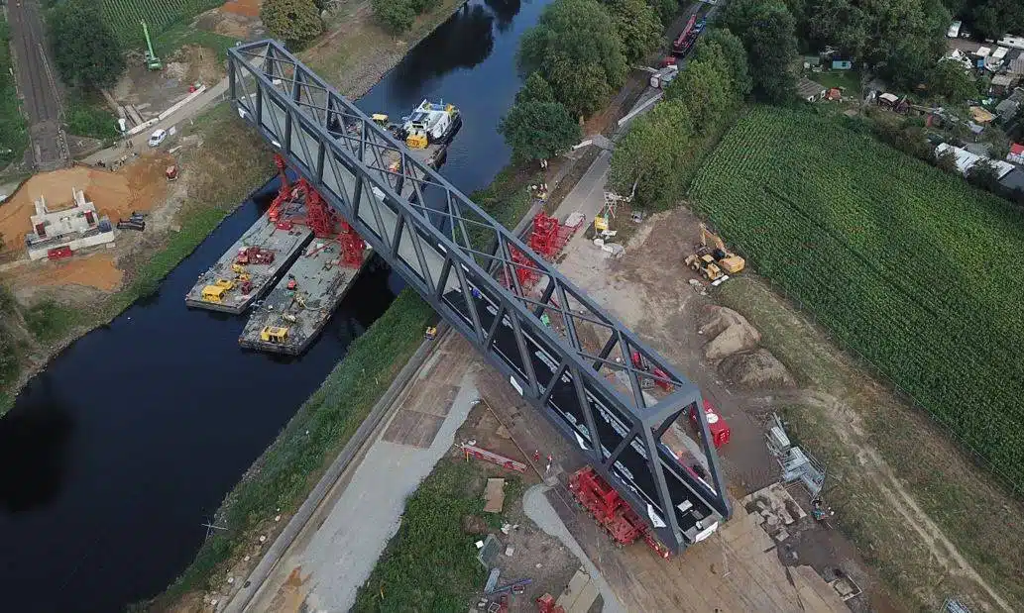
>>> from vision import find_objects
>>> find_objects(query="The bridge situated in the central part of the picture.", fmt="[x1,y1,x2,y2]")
[227,36,735,557]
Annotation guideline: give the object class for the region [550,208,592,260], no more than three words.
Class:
trailer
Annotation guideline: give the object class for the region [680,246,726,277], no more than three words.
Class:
work vehicle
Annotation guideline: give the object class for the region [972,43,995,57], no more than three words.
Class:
camper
